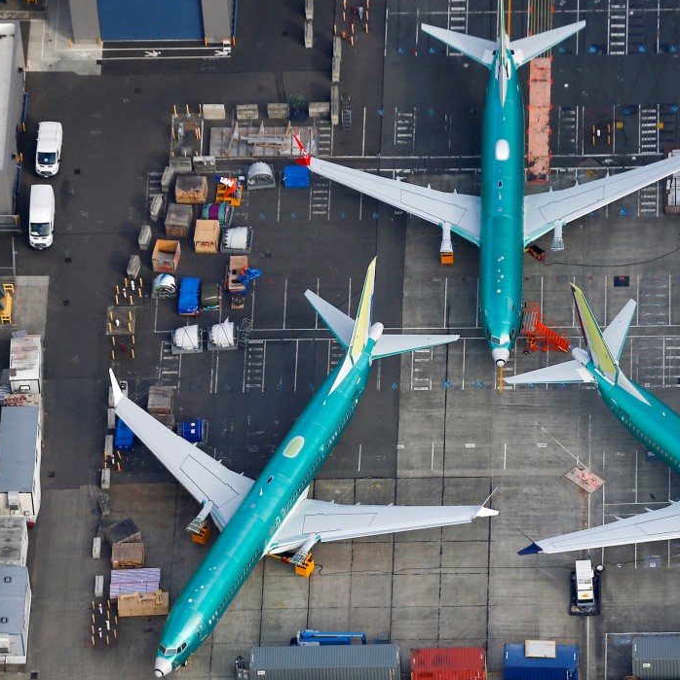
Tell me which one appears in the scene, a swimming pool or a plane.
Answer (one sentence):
The image shows a plane.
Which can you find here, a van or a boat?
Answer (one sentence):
The one in the frame is a van.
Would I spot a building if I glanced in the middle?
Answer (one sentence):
No, looking in the middle, there is no building.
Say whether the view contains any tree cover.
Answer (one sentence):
No, there is no tree cover in the image.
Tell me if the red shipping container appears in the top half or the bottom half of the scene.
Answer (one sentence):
It is in the bottom half that the red shipping container appears.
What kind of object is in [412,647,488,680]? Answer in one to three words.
shipping container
